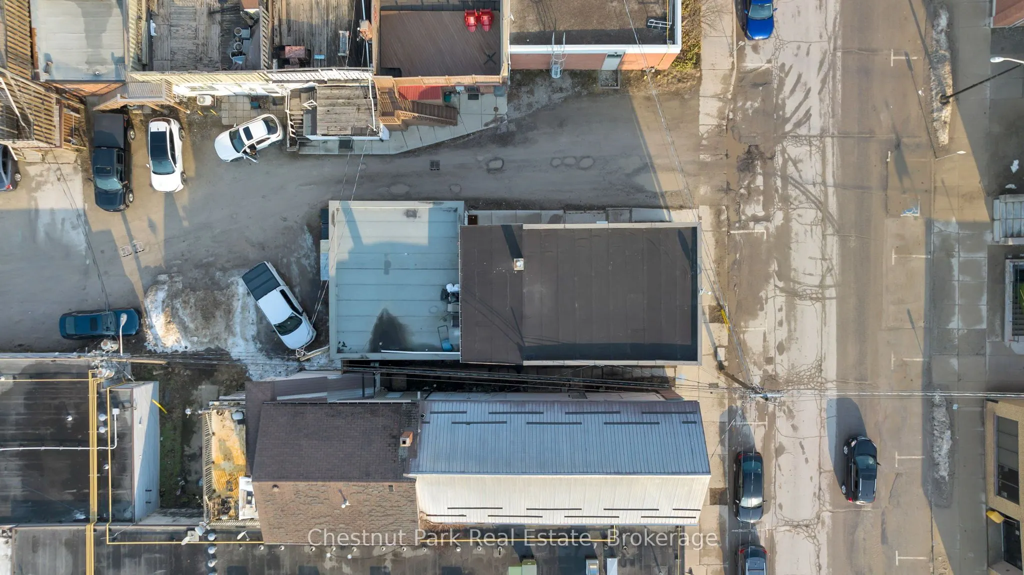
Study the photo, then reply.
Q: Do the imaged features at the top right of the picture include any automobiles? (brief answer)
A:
Yes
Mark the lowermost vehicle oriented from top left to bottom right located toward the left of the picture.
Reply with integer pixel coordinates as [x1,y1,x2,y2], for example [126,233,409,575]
[242,260,316,348]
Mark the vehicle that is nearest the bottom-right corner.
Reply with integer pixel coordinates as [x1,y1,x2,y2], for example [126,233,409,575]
[839,433,883,505]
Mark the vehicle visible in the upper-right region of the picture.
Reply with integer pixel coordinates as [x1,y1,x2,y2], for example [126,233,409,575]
[740,0,778,43]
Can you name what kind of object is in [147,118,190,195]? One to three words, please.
car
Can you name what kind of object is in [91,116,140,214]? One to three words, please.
truck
